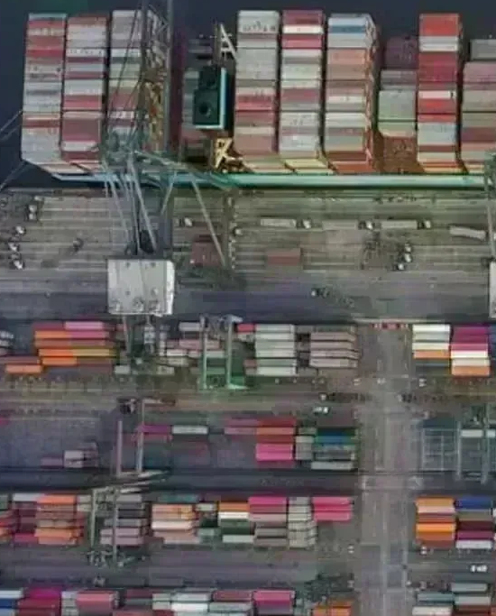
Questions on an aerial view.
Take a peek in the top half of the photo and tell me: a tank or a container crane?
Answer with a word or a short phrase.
container crane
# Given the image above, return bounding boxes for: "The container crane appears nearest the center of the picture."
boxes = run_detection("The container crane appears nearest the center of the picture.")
[188,312,250,391]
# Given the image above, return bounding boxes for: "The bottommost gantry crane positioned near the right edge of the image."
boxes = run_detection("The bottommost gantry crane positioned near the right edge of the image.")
[455,399,496,484]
